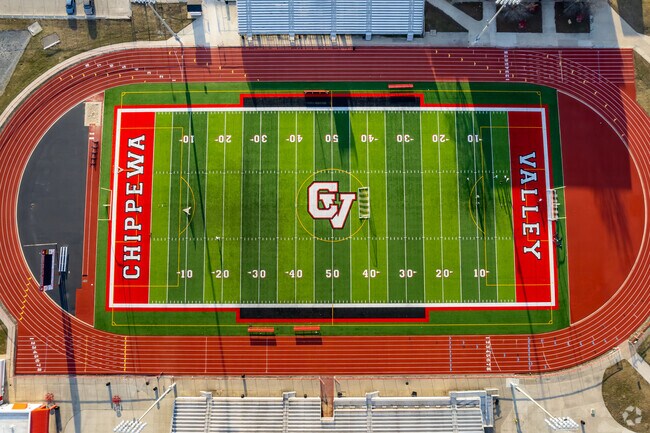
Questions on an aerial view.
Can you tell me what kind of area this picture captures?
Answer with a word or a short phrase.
sports ground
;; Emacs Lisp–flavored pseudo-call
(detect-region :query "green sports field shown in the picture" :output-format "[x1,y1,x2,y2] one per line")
[93,83,572,334]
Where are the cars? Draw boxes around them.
[81,0,93,14]
[64,0,76,14]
